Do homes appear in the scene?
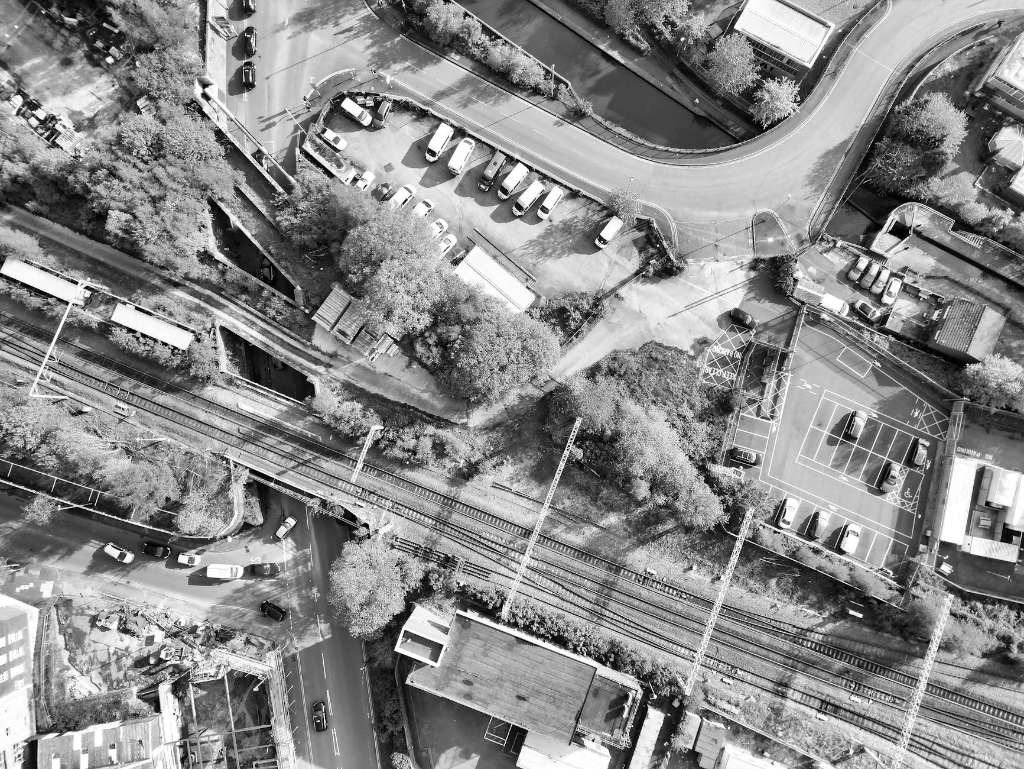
Yes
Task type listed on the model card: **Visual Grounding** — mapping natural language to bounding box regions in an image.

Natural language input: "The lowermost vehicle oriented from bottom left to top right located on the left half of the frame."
[273,514,298,541]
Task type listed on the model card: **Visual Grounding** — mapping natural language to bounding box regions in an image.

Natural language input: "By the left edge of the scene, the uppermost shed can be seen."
[0,257,94,304]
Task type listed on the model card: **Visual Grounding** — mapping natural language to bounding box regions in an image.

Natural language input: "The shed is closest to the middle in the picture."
[455,246,535,306]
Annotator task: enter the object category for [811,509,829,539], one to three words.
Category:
car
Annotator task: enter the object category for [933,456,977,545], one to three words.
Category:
shed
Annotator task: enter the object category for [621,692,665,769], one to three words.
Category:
building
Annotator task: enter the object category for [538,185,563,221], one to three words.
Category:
vehicle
